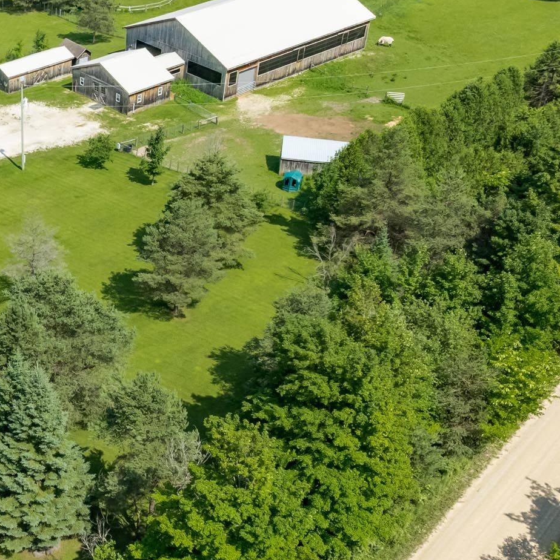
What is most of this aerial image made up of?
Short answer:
trees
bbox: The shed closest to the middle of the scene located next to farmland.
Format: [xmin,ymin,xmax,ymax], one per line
[279,133,359,179]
